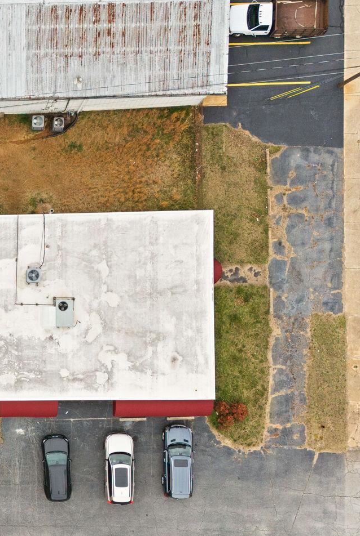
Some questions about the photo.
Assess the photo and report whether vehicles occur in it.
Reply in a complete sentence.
Yes, this view includes a vehicle.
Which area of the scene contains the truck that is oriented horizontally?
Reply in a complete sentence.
The truck that is oriented horizontally is located in the top right region of the scene.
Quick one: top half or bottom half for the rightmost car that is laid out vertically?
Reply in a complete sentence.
Seen from above, the rightmost car that is laid out vertically lies in the bottom half of the view.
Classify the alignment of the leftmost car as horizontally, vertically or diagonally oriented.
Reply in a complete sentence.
From this overhead view, the leftmost car appears to run vertically.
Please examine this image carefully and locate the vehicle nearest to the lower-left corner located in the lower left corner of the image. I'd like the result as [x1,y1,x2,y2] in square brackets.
[41,432,74,502]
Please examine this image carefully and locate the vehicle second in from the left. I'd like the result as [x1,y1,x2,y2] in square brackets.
[103,431,139,506]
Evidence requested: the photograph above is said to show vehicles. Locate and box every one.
[103,431,139,506]
[230,0,325,39]
[41,432,74,502]
[159,423,197,500]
